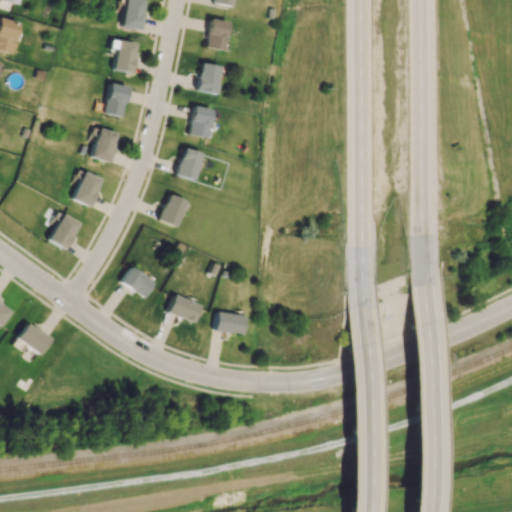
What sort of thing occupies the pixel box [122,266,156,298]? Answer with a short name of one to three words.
house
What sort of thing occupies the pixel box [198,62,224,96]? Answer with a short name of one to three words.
house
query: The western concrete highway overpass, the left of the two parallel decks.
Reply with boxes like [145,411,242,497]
[338,246,389,512]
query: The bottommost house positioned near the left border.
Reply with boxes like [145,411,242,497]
[18,323,52,355]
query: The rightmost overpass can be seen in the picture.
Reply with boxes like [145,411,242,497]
[410,235,454,512]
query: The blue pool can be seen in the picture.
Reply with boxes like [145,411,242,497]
[2,72,25,90]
